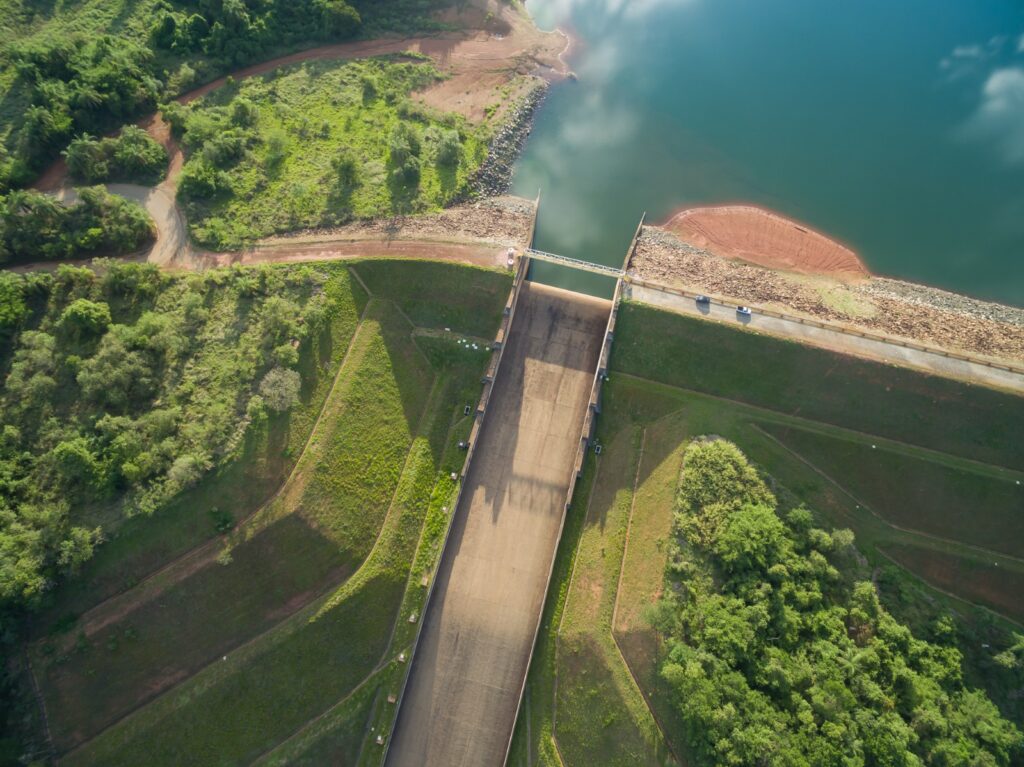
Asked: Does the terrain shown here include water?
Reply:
Yes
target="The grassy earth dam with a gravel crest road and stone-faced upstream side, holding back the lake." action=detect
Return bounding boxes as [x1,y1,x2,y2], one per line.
[265,197,1024,560]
